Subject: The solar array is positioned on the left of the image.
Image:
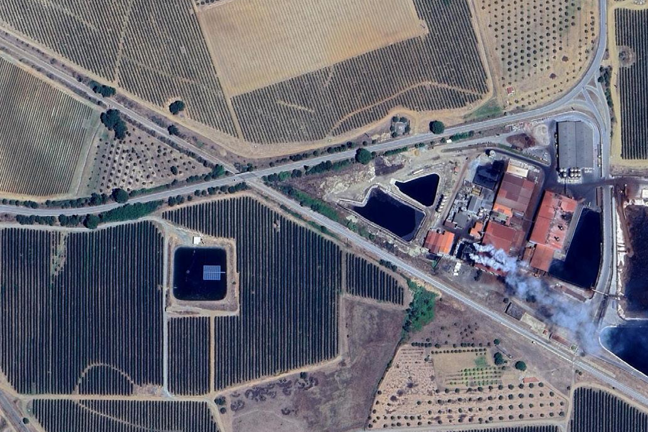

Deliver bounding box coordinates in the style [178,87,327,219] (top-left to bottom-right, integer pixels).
[203,266,226,280]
